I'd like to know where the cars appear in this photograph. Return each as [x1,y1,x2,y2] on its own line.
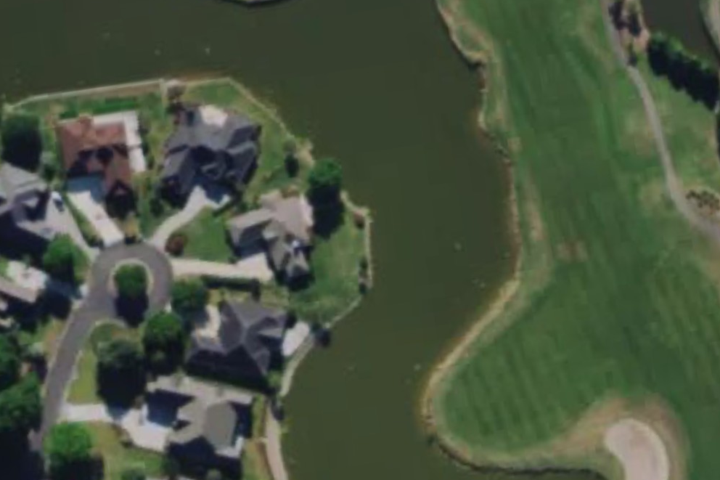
[51,191,63,208]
